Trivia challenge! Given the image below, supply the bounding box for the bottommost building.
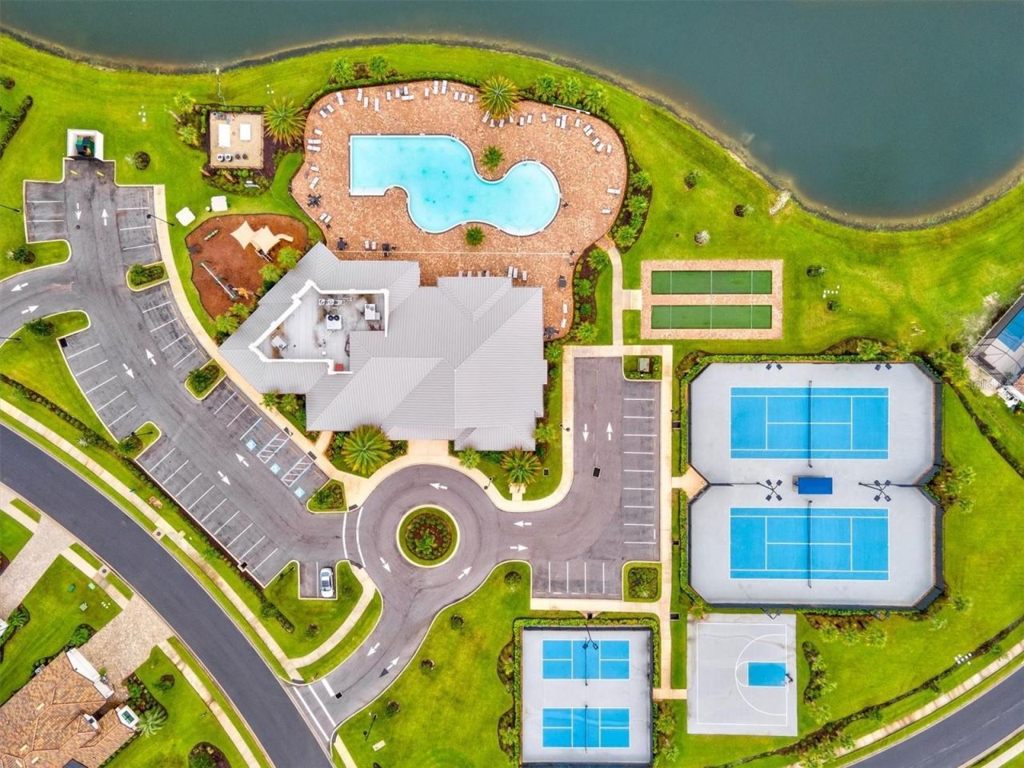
[0,650,140,768]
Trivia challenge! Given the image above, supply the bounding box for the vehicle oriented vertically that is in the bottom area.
[318,567,333,598]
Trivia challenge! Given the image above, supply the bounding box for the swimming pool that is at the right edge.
[996,310,1024,353]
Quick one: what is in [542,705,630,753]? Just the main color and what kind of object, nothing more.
blue sports court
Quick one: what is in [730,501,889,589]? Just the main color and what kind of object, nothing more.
blue tennis court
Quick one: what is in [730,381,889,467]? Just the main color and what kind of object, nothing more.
blue tennis court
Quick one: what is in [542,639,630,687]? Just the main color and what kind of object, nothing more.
blue sports court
